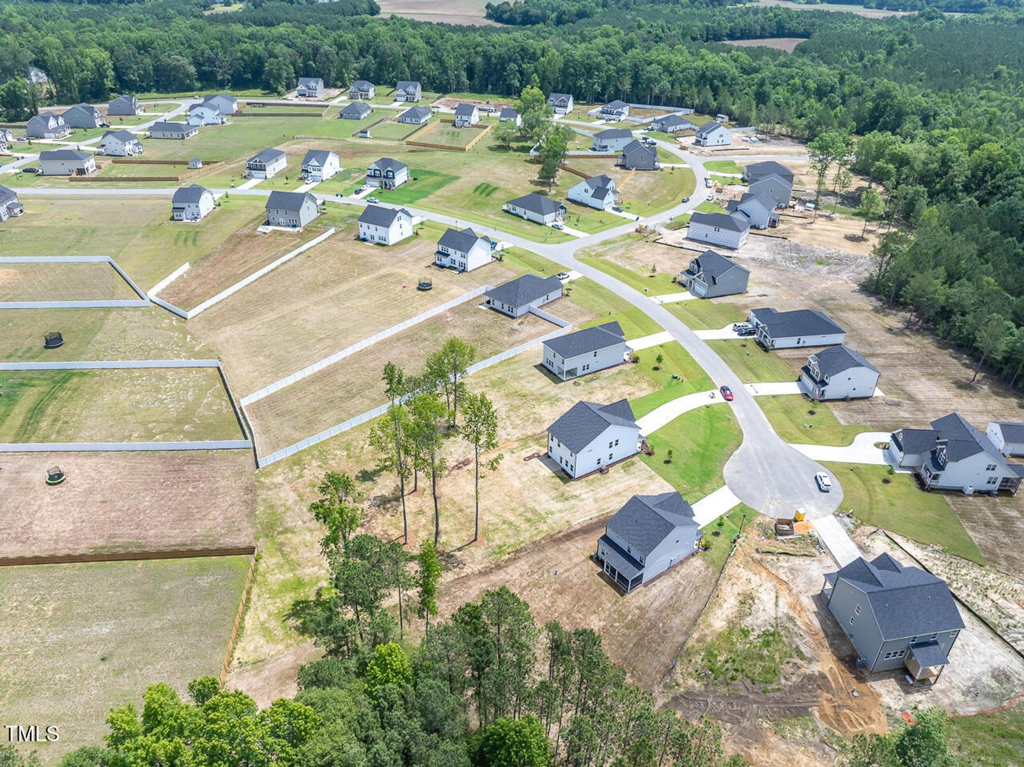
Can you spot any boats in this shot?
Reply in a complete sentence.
No, there appears to be no boat in this shot.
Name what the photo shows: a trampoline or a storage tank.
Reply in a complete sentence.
This aerial view contains a trampoline.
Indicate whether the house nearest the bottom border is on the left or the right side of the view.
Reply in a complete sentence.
The house nearest the bottom border is on the right side of the image.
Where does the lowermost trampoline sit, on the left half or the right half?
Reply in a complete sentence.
It is on the left.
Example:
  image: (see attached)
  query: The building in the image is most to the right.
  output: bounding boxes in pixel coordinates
[986,418,1024,457]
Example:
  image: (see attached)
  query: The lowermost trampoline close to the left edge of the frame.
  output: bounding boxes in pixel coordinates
[38,462,67,485]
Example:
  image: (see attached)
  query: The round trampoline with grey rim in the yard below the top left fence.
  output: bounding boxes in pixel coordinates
[41,330,62,346]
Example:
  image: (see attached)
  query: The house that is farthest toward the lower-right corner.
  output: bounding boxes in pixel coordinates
[817,554,966,684]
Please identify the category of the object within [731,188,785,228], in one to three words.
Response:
house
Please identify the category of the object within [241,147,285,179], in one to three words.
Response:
house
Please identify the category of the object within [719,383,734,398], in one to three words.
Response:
car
